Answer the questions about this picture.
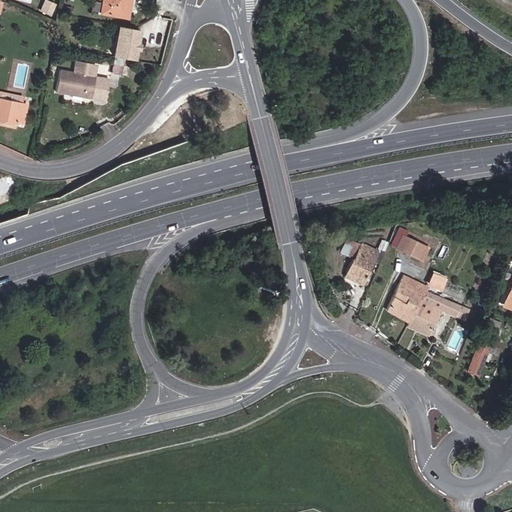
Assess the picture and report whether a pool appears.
Yes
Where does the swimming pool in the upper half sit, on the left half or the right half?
left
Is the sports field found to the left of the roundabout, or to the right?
left of it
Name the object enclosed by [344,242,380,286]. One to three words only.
house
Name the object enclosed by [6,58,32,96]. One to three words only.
swimming pool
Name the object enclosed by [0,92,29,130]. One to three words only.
house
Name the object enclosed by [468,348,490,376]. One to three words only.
shed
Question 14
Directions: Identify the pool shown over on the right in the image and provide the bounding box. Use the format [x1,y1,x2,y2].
[444,326,465,355]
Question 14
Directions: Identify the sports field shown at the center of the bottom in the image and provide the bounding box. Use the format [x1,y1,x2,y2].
[0,397,448,512]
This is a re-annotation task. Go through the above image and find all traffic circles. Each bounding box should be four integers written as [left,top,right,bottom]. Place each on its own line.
[414,422,512,500]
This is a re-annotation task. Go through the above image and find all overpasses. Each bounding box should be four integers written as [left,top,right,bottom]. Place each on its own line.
[248,115,302,246]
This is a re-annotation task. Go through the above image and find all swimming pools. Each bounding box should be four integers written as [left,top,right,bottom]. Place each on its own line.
[444,326,465,355]
[6,58,32,96]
